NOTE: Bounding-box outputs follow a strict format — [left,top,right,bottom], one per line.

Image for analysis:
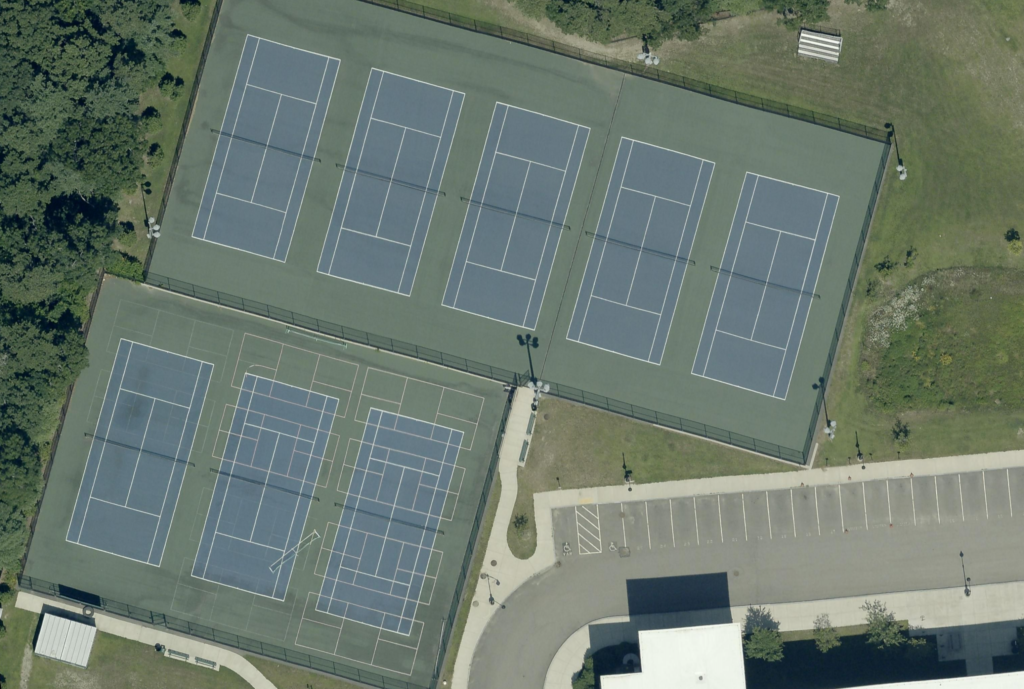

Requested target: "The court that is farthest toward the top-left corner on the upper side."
[192,34,341,262]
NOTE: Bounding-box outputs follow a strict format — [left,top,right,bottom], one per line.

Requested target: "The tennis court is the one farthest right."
[691,171,840,400]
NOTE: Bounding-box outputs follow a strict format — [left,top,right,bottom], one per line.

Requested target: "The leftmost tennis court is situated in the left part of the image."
[66,338,215,566]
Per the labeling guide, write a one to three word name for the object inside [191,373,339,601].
tennis court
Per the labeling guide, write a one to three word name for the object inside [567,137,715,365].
tennis court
